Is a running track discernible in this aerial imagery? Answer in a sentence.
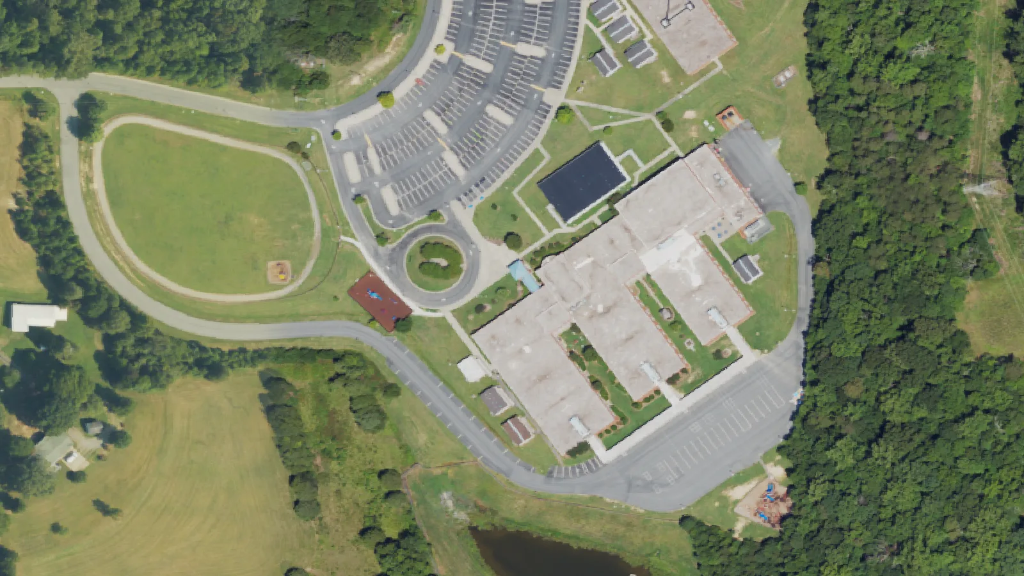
Yes, you can see a running track in this photo.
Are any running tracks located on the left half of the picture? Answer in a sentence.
Yes, a running track is visible on the left half of the picture.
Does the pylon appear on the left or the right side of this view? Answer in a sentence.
You can find the pylon on the right side of the picture.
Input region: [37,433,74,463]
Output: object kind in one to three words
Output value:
house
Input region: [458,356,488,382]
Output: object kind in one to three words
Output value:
shed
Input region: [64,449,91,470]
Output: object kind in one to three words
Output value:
building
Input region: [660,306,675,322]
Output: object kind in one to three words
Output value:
gazebo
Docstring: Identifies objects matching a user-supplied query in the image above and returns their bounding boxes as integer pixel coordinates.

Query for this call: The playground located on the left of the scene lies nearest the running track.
[348,270,412,331]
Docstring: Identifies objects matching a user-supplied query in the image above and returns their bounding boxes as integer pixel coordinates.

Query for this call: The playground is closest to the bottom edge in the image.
[736,478,794,528]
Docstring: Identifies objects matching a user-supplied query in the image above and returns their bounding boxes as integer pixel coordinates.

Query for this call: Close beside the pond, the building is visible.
[472,145,761,456]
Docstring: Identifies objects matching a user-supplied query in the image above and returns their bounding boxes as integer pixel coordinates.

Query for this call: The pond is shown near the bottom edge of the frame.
[467,524,656,576]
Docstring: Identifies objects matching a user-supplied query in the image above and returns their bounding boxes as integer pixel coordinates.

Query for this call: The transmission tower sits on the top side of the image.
[967,176,1003,199]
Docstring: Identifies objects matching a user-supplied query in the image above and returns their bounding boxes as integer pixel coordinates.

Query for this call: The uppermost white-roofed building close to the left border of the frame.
[13,304,69,332]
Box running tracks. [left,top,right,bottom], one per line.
[94,116,321,302]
